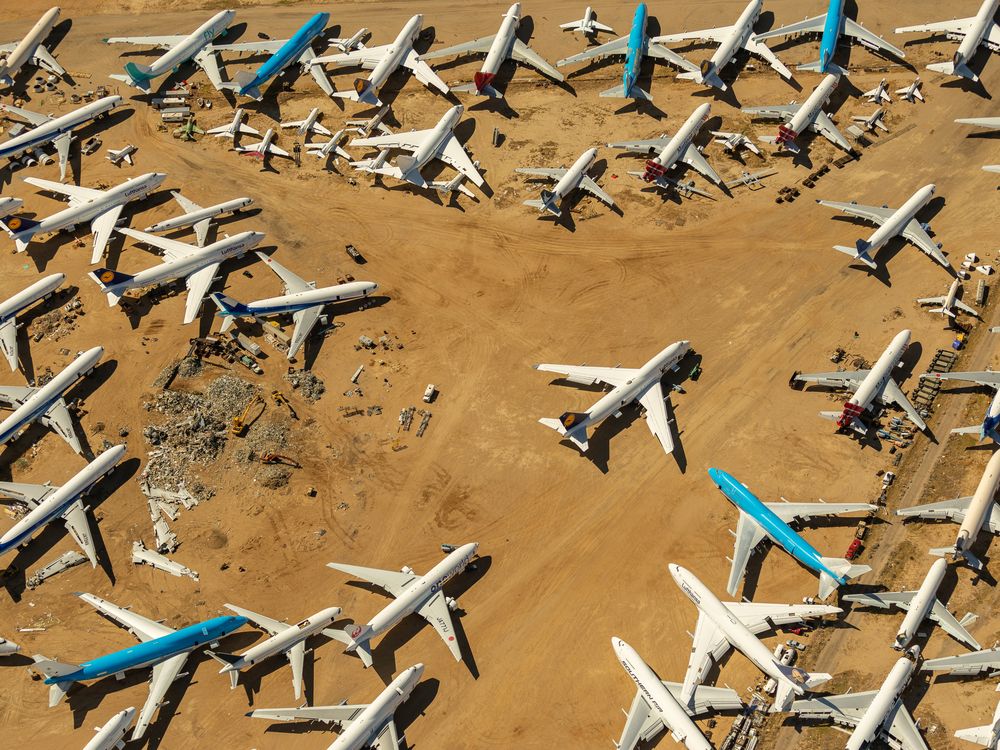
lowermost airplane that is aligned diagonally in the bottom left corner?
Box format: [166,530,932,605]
[88,709,135,750]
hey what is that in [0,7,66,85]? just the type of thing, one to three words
airplane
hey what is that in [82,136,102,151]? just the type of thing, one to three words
vehicle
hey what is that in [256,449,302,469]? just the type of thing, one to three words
work vehicle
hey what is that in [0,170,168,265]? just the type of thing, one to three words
airplane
